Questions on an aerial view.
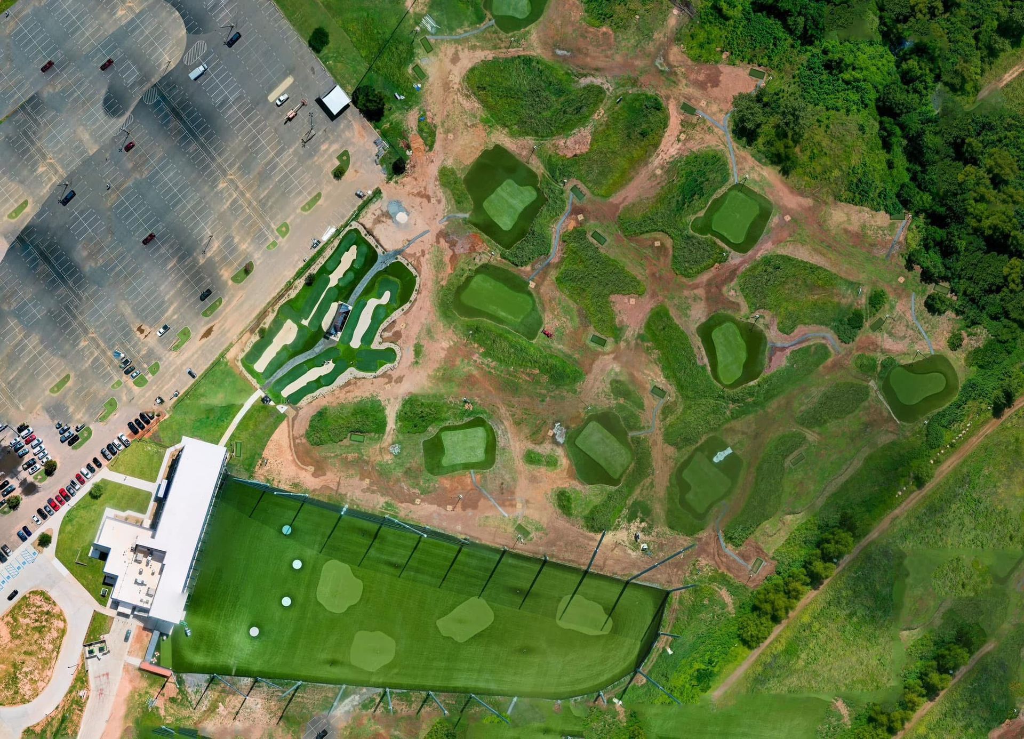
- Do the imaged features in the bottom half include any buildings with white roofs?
Yes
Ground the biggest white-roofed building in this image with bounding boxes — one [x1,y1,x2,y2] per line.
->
[88,436,236,624]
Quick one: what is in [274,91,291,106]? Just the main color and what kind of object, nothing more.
white vehicle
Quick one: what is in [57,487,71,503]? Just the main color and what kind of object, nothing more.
red vehicle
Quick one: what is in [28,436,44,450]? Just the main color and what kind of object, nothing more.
white vehicle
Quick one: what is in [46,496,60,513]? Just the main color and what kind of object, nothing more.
red vehicle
